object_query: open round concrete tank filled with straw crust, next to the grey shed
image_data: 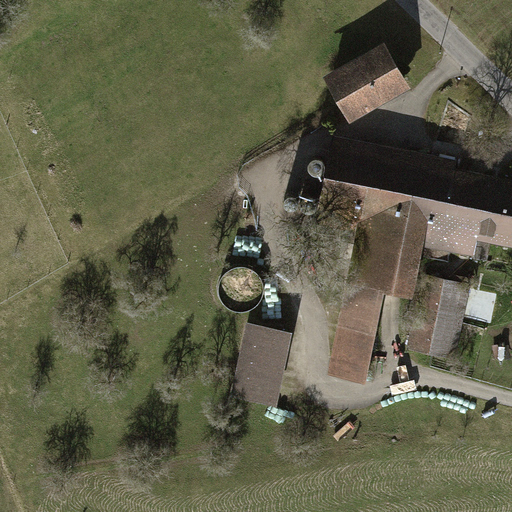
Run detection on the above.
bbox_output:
[218,266,264,312]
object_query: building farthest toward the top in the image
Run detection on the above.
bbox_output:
[324,44,410,123]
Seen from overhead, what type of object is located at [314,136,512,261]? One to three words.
barn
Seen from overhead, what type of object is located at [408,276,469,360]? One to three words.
barn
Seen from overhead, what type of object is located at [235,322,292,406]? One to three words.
shed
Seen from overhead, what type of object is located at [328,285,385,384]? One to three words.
shed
